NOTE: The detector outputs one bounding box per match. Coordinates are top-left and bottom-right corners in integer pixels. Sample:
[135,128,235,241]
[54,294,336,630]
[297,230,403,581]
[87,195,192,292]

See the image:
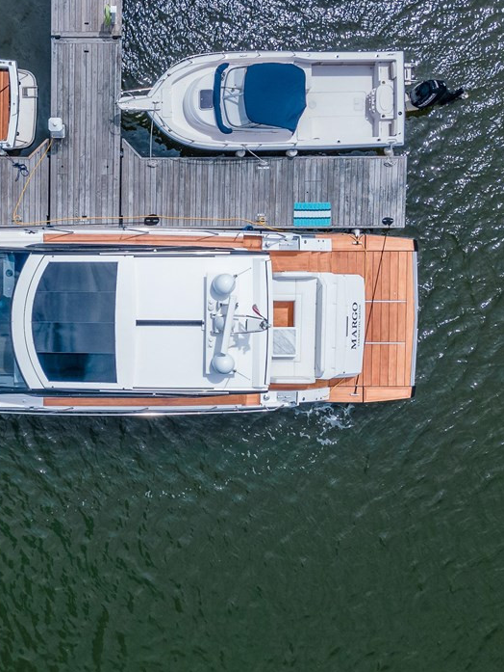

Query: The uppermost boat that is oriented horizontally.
[117,49,469,149]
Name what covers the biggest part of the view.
water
